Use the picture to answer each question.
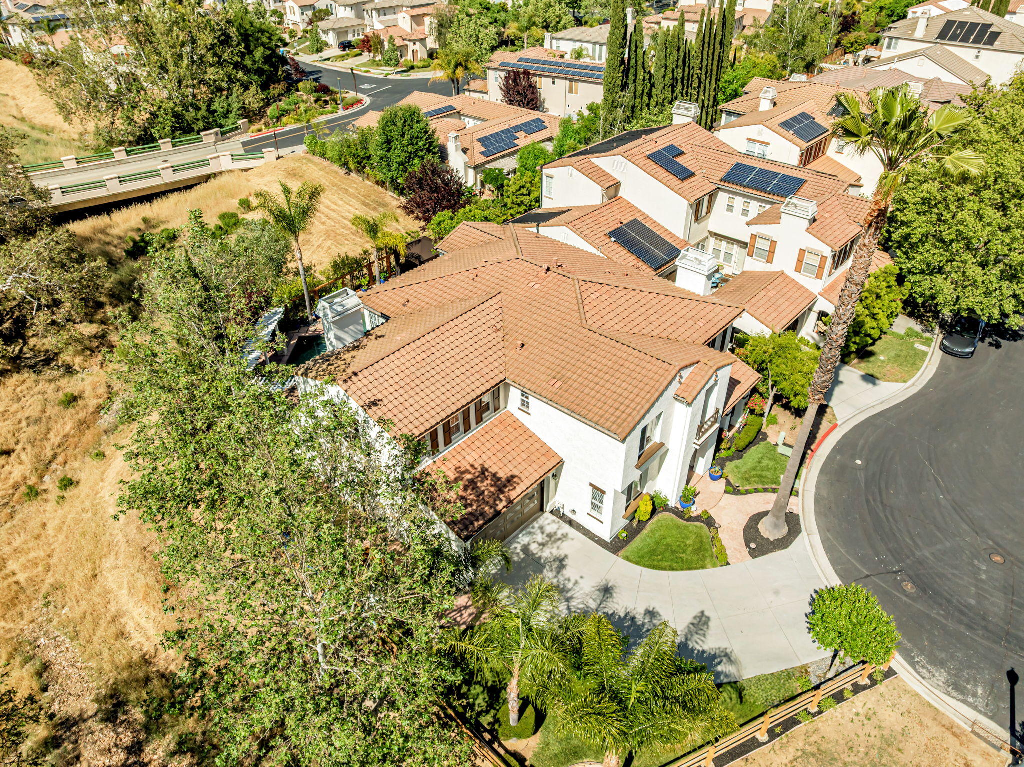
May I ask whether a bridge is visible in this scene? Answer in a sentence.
Yes, a bridge can be made out from above.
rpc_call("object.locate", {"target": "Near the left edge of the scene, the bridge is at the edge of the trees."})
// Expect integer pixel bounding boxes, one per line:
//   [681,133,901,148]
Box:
[15,126,274,214]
